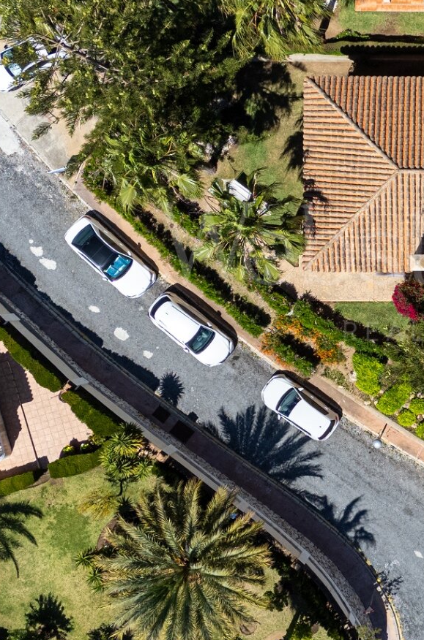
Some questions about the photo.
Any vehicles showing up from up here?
Yes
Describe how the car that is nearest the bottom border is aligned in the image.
at an angle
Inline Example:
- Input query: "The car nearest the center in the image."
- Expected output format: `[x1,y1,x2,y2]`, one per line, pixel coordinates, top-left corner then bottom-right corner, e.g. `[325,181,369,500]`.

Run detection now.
[142,290,243,367]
